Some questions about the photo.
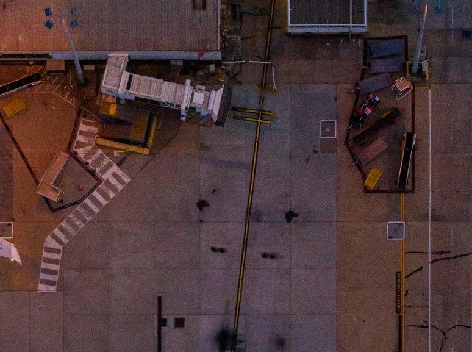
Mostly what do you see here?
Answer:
paved ground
